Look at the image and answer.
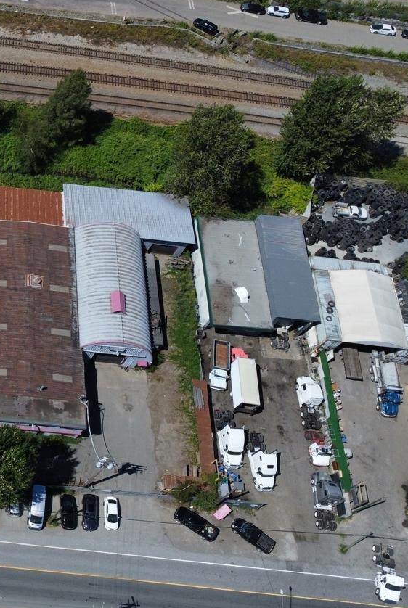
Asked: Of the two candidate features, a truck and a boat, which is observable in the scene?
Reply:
truck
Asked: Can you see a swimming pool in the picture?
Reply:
No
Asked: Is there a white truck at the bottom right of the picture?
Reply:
Yes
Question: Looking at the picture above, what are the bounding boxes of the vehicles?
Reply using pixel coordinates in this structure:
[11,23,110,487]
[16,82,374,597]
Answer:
[246,432,280,495]
[7,489,25,522]
[330,205,369,222]
[295,8,328,25]
[231,346,273,420]
[294,373,328,431]
[27,481,50,533]
[171,505,223,546]
[80,493,100,533]
[300,429,333,471]
[60,493,78,531]
[207,336,232,396]
[102,496,121,534]
[369,542,408,607]
[369,345,405,423]
[194,19,219,35]
[227,516,280,559]
[240,0,265,16]
[368,23,397,36]
[400,29,408,40]
[265,6,291,19]
[212,408,248,474]
[308,470,343,533]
